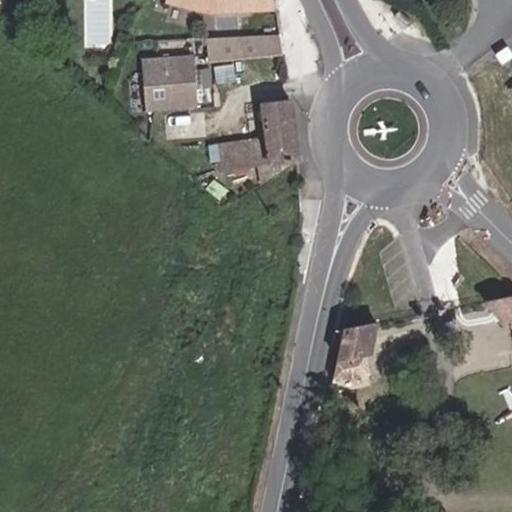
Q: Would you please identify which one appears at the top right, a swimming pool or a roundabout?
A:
roundabout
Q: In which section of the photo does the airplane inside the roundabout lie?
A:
top right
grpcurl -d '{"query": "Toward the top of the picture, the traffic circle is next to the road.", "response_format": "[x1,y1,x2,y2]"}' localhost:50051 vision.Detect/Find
[311,46,478,212]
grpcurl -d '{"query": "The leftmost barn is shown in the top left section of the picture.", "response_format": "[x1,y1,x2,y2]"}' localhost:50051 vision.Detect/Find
[82,0,114,48]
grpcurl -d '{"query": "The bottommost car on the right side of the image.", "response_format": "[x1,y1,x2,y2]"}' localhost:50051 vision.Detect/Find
[415,79,432,100]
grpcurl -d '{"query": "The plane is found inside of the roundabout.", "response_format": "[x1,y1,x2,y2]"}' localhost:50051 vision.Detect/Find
[364,121,399,141]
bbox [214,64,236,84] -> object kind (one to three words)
shed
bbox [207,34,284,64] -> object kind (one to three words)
building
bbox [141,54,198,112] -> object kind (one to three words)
house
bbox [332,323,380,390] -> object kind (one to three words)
house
